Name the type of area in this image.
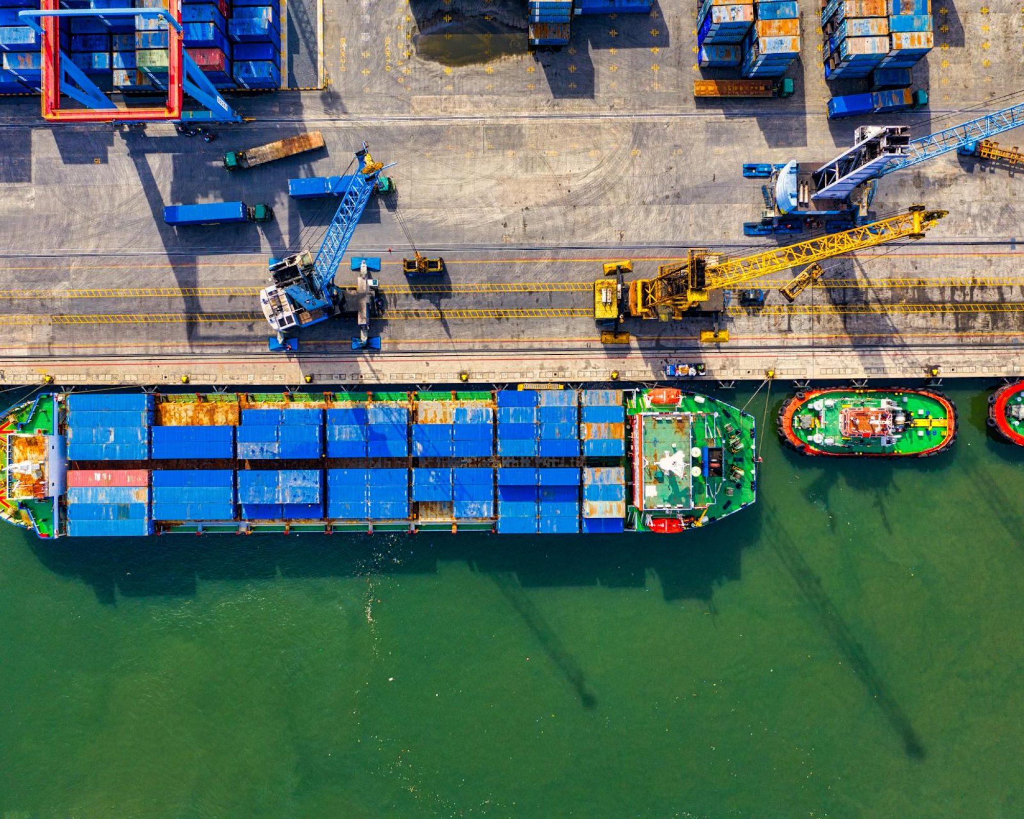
port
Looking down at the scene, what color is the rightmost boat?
red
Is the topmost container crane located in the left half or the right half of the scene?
left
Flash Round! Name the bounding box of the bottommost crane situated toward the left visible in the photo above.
[261,140,423,351]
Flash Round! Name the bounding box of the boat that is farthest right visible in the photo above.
[985,383,1024,442]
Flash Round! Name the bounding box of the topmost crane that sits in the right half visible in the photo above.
[742,94,1024,236]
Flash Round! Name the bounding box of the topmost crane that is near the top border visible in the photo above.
[17,0,258,127]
